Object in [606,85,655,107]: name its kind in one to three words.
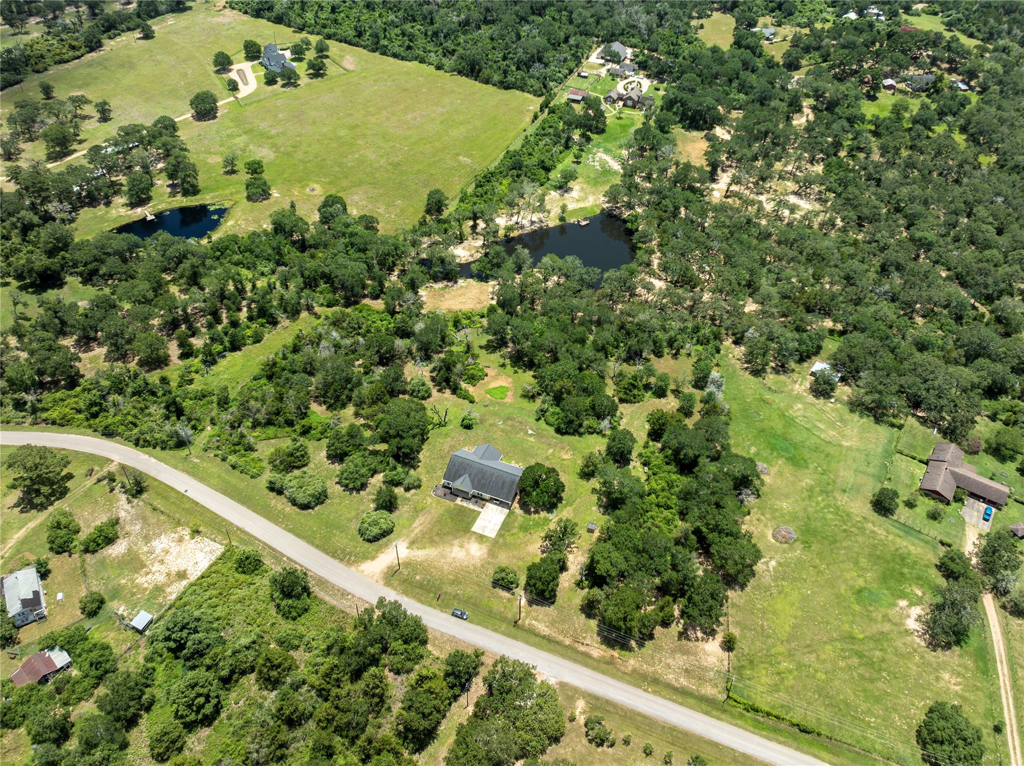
house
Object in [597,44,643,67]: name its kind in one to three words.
barn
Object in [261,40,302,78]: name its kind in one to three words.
house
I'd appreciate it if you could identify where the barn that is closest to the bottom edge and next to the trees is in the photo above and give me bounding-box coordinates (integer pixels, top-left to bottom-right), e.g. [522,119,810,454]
[10,644,75,693]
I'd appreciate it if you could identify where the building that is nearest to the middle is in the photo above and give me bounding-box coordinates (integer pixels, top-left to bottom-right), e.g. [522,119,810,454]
[442,444,528,509]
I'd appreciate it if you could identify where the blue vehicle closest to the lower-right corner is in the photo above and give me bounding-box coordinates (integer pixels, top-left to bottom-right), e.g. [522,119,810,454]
[983,505,995,521]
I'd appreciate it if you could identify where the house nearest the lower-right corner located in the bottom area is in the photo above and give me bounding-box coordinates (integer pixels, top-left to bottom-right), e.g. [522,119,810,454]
[920,444,1010,507]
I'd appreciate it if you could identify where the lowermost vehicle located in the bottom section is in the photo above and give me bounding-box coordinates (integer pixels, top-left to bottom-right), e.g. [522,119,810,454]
[449,607,470,622]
